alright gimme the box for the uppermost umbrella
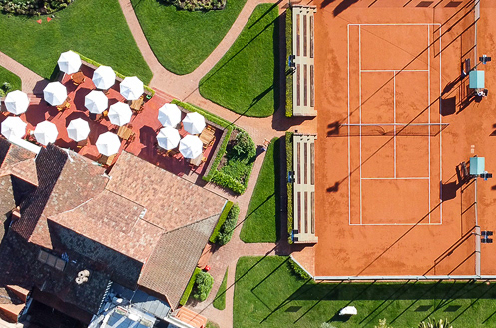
[57,49,81,74]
